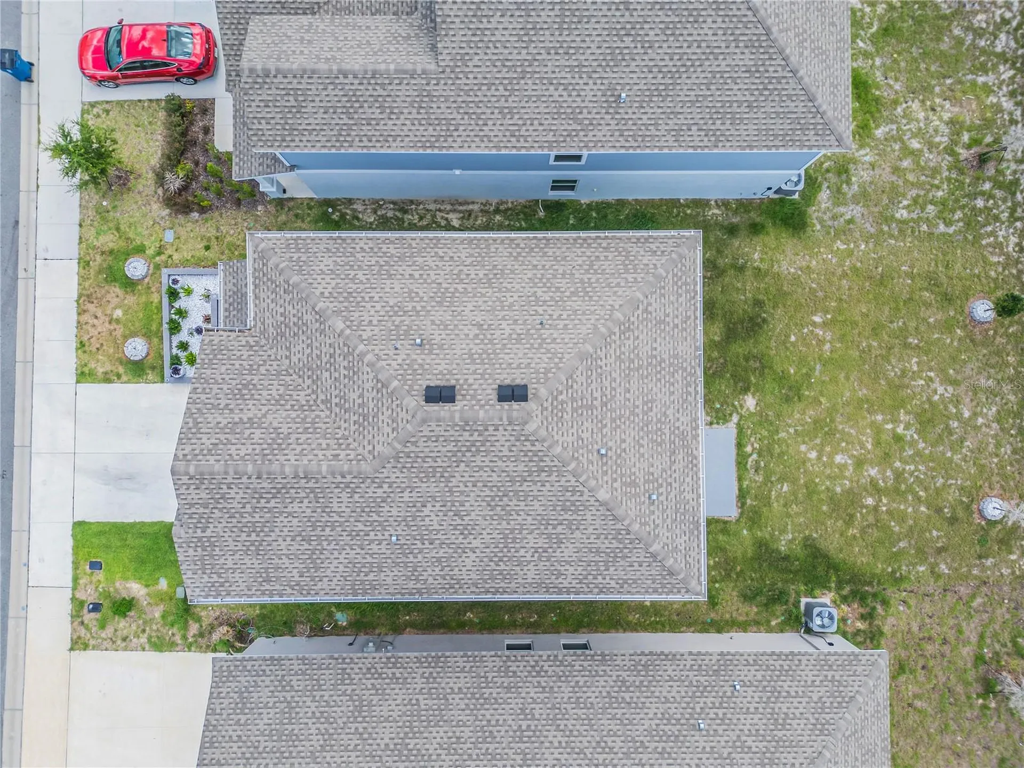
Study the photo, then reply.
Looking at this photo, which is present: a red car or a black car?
red car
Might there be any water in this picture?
No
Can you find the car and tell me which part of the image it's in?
top left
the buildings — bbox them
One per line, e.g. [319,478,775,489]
[213,0,854,211]
[172,231,708,604]
[194,630,891,768]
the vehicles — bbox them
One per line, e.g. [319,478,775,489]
[77,17,218,87]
